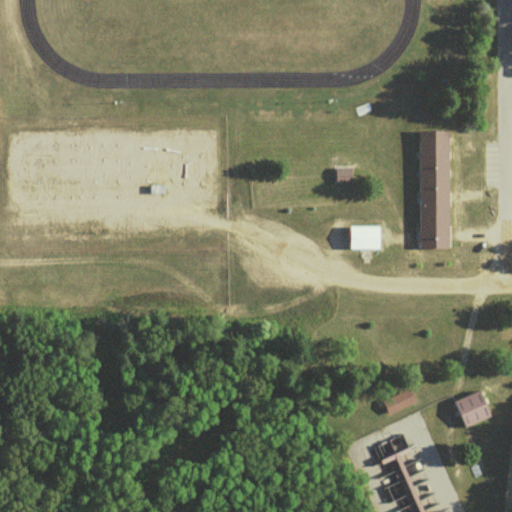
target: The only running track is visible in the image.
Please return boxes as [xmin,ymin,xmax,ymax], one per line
[20,0,421,88]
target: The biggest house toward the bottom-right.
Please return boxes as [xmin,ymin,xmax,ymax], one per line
[456,392,492,428]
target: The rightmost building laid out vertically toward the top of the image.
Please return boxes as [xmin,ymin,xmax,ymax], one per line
[420,130,451,249]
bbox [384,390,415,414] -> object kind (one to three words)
shed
